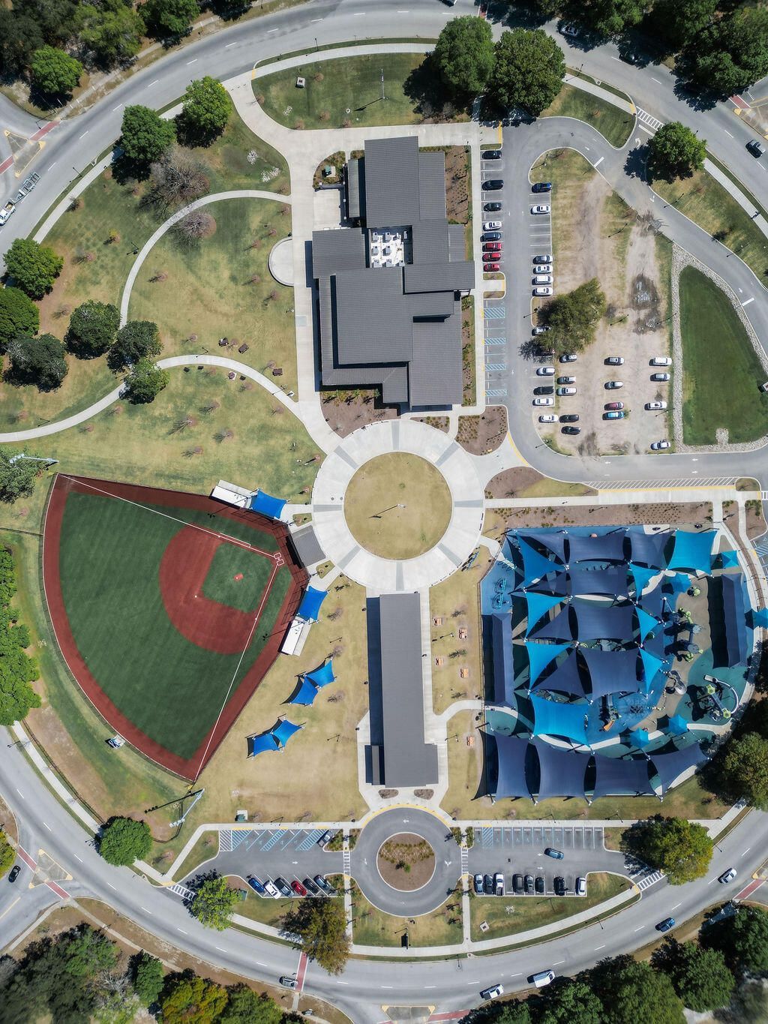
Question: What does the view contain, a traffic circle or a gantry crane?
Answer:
traffic circle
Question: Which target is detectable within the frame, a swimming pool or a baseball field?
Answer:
baseball field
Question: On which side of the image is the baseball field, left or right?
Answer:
left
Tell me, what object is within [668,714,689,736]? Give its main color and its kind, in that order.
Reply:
blue umbrella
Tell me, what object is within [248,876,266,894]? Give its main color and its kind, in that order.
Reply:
blue car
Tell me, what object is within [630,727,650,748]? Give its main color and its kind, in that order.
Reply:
blue umbrella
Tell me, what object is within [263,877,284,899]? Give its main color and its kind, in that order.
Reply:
white truck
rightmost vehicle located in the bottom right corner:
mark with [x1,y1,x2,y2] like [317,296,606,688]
[717,866,736,883]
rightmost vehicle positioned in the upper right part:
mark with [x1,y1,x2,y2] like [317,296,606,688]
[745,140,764,159]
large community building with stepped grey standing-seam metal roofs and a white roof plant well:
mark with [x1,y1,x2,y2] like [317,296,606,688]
[312,136,475,410]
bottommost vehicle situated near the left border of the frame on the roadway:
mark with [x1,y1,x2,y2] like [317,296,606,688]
[10,862,22,883]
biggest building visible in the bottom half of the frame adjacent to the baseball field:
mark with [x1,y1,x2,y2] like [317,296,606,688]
[372,593,438,788]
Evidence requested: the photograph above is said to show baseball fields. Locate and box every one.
[43,474,308,781]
